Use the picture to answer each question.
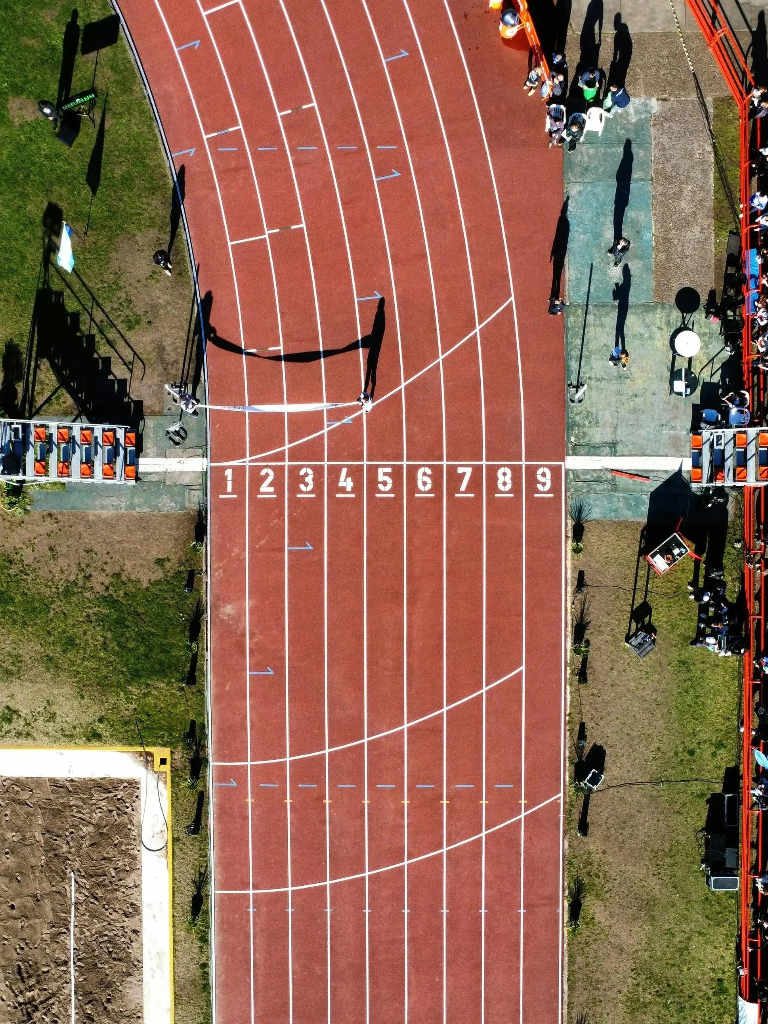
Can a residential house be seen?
No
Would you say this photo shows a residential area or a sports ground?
sports ground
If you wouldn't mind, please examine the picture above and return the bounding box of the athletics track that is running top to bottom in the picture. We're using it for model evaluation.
[117,0,566,1024]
